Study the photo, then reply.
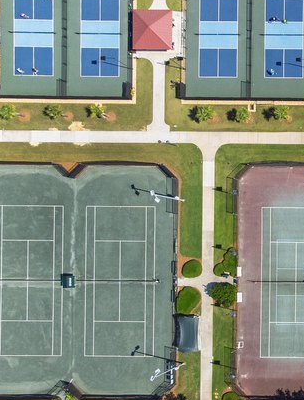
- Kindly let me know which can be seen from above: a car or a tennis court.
tennis court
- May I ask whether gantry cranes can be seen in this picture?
No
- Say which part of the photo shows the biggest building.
top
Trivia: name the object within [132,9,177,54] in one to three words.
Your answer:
building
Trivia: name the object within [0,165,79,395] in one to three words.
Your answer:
tennis court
